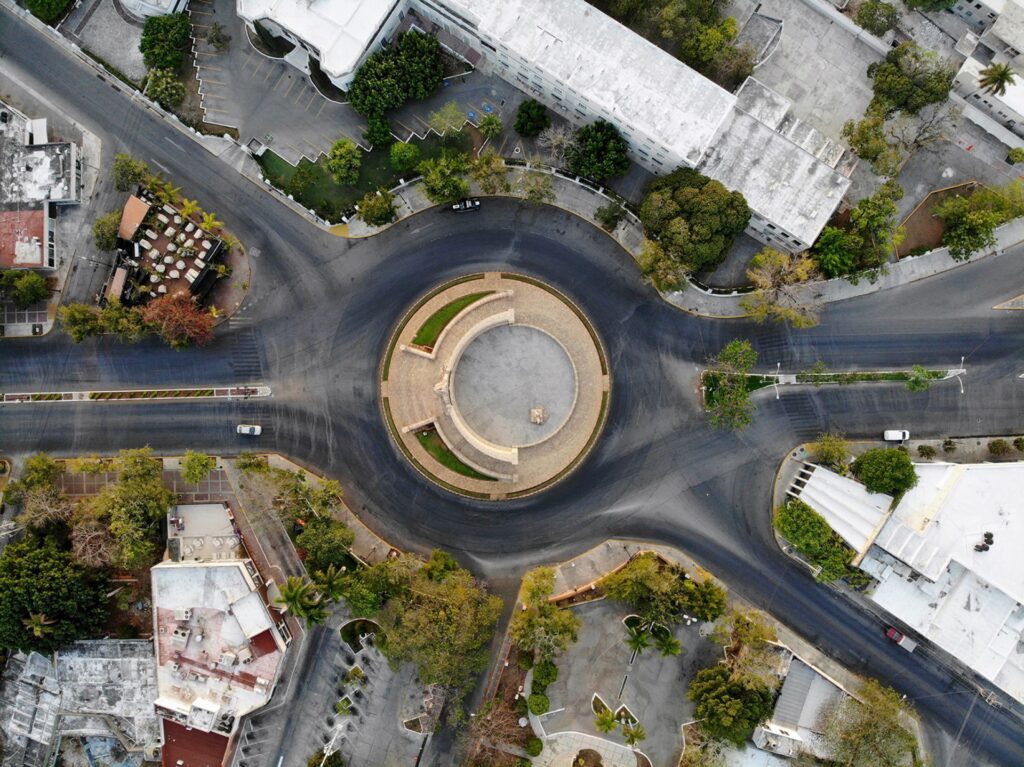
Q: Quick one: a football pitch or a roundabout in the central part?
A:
roundabout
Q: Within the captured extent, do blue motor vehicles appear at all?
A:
No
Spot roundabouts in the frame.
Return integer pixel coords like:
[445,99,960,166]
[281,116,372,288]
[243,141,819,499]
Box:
[324,214,668,558]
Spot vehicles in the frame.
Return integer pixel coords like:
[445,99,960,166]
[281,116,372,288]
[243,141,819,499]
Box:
[451,199,482,213]
[883,429,910,444]
[885,627,920,653]
[237,424,262,436]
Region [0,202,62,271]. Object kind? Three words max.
building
